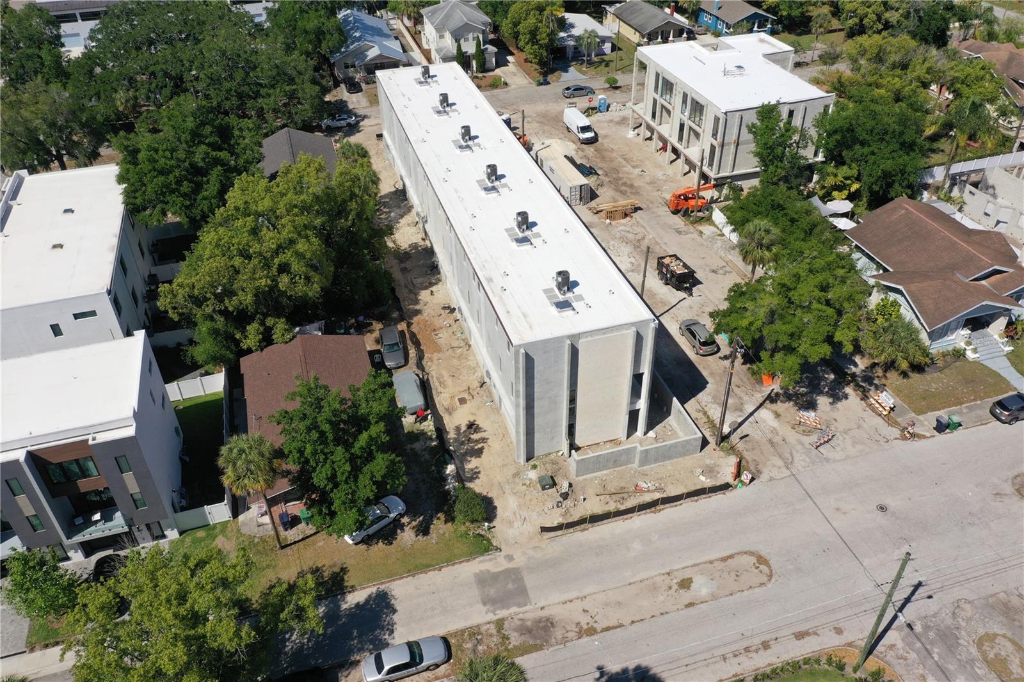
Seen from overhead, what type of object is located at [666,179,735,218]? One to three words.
work vehicle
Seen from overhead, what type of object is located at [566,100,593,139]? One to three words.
vehicle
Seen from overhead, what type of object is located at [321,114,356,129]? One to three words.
car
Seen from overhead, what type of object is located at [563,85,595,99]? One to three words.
car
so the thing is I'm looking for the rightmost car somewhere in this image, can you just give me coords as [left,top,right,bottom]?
[991,388,1024,423]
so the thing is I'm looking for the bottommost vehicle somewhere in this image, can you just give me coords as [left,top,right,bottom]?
[359,633,450,682]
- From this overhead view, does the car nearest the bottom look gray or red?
gray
